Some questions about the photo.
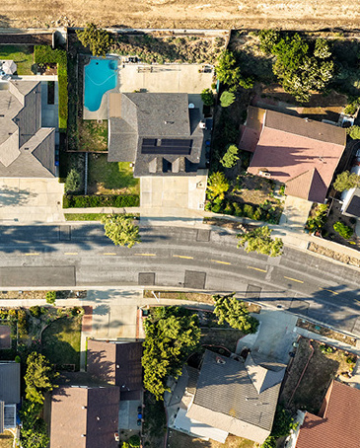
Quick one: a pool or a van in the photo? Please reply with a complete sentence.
Of the two, only a pool appears.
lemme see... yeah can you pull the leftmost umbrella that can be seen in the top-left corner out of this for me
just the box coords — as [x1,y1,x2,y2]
[2,59,18,75]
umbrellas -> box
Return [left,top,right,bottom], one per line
[2,59,18,75]
[28,63,39,73]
